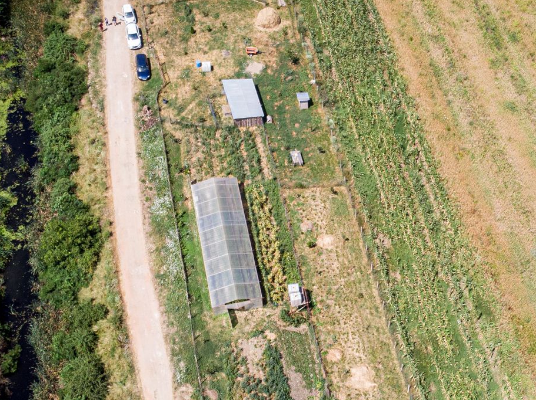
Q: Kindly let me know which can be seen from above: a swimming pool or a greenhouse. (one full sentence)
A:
There is a greenhouse in the scene.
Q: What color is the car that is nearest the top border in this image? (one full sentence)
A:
From above, the car that is nearest the top border appears white.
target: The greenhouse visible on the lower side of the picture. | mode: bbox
[191,175,262,315]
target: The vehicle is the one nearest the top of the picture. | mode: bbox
[117,0,137,23]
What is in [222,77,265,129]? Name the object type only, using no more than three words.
shed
